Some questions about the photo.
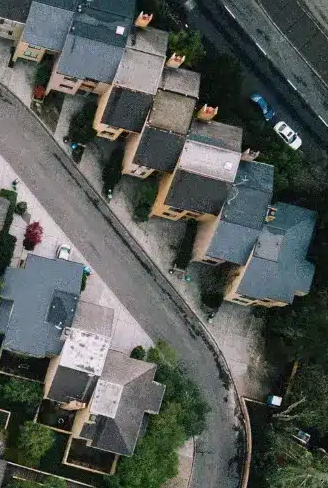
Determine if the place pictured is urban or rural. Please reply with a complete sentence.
This place is urban.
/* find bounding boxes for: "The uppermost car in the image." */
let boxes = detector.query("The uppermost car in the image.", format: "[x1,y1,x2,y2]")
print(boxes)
[249,90,277,125]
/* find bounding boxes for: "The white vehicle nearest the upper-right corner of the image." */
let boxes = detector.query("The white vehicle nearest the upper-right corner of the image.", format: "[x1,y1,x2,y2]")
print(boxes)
[271,119,303,152]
